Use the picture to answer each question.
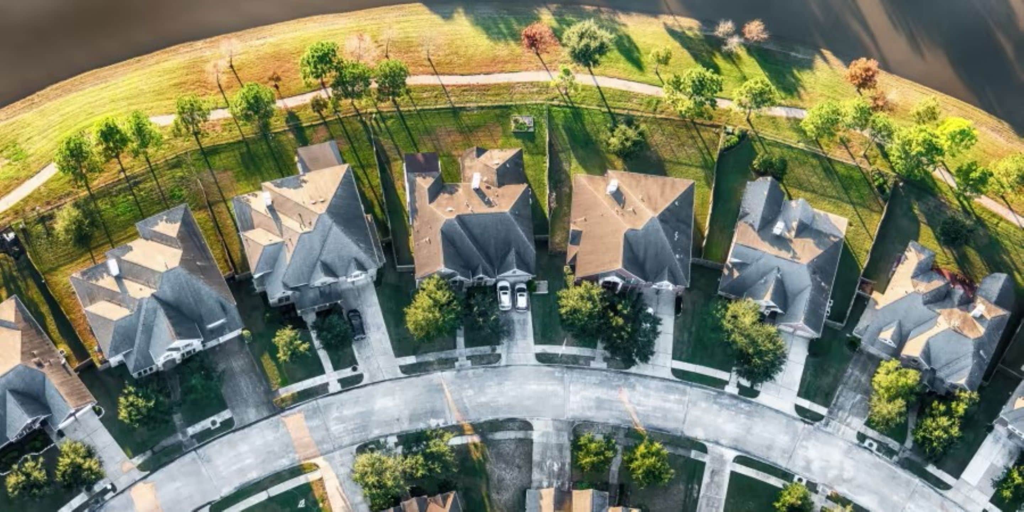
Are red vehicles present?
No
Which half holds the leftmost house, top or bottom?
bottom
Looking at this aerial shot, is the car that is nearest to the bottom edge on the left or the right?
left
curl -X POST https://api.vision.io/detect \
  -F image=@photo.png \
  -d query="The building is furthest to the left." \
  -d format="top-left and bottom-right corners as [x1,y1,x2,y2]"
[0,294,98,444]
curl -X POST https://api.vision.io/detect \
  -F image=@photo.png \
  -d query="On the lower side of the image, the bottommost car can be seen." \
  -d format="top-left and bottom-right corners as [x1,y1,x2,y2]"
[347,308,368,339]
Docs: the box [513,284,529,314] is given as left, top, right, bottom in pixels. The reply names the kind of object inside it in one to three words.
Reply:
car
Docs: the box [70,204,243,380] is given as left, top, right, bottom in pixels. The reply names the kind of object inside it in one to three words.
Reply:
house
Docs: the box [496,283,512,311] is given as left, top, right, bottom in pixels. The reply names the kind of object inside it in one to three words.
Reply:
car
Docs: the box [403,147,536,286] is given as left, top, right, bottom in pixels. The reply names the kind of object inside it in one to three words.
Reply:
house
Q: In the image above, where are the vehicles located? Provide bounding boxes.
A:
[513,284,529,314]
[347,308,368,339]
[496,283,512,311]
